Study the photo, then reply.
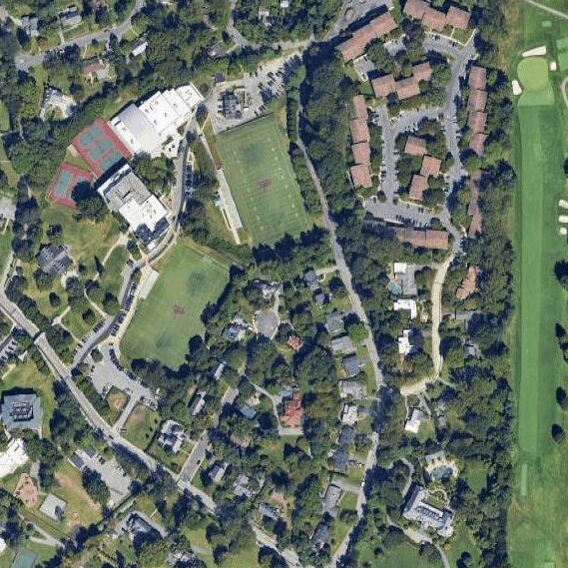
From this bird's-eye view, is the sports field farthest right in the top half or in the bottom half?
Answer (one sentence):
You can find the sports field farthest right in the top half.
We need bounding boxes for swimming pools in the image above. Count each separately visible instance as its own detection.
[387,280,402,296]
[431,467,454,479]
